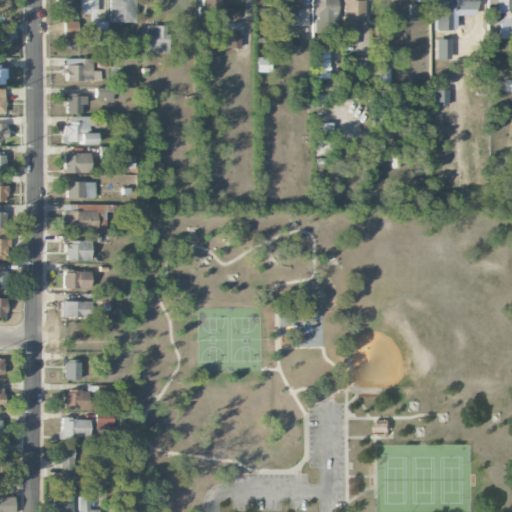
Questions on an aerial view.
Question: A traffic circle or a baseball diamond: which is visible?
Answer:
baseball diamond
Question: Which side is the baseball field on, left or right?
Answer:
right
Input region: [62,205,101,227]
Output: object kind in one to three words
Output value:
house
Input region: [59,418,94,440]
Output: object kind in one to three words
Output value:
house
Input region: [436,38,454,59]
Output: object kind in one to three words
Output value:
building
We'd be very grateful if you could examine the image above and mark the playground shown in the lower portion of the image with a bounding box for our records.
[281,289,329,347]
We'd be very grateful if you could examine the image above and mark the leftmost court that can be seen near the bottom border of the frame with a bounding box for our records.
[378,445,410,512]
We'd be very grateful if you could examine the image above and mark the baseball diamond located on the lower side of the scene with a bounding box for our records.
[350,331,404,388]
